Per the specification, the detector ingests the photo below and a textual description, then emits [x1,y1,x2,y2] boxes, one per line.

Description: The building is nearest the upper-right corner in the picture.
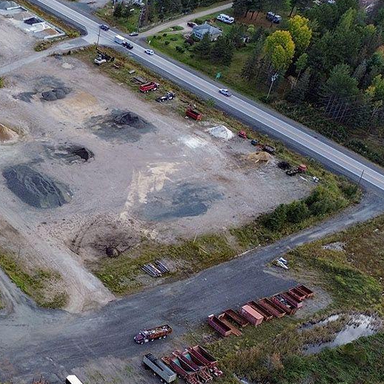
[189,26,227,44]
